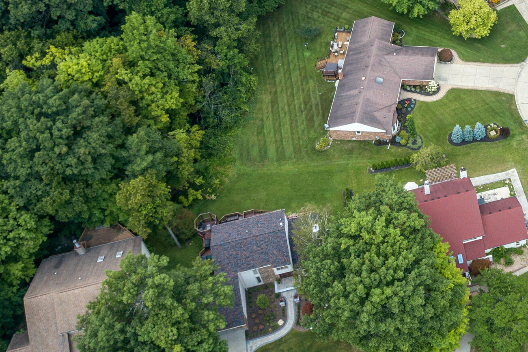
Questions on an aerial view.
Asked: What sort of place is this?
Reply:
residential area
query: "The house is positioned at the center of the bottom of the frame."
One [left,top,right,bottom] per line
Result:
[194,209,326,339]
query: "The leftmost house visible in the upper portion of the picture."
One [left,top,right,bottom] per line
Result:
[313,15,441,145]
